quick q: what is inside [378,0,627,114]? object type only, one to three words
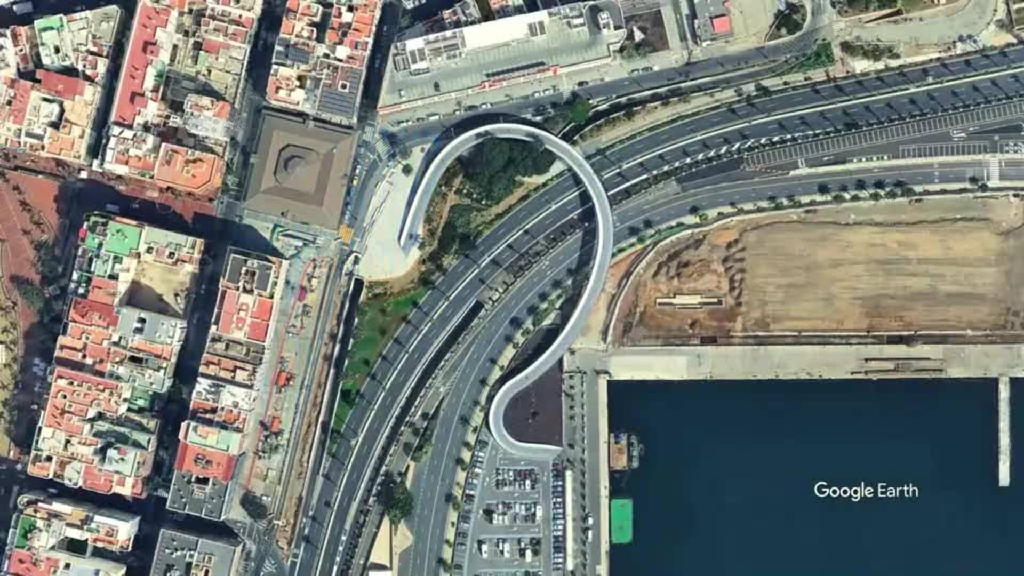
building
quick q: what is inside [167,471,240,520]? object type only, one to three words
building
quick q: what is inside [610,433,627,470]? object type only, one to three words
ship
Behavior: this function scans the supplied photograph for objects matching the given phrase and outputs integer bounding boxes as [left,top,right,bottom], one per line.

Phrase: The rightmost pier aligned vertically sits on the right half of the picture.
[998,377,1010,485]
